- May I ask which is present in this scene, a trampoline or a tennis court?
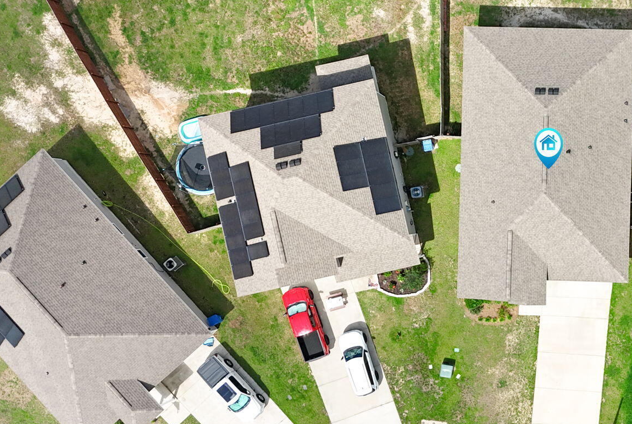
trampoline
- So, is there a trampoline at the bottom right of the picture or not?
No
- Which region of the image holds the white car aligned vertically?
bottom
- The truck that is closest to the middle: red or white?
red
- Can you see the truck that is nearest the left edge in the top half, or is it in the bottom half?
bottom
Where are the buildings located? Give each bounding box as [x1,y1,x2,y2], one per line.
[457,25,632,306]
[198,55,423,297]
[0,149,221,424]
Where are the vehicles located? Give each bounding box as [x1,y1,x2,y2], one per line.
[286,282,331,361]
[341,327,379,395]
[197,349,269,423]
